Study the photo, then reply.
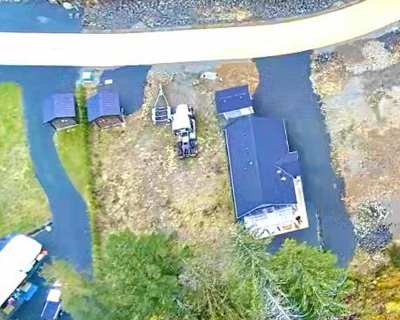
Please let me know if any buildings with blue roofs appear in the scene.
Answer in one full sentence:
Yes, the photo shows a building with a blue roof.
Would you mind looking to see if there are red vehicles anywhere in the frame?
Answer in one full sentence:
No, I can see no red vehicle in this picture.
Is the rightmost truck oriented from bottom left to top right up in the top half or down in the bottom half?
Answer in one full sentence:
The rightmost truck oriented from bottom left to top right is in the bottom half of the image.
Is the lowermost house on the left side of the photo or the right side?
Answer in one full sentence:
The lowermost house is on the right side of the image.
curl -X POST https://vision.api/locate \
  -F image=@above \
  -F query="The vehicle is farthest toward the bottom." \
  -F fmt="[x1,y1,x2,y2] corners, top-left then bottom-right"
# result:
[33,284,68,320]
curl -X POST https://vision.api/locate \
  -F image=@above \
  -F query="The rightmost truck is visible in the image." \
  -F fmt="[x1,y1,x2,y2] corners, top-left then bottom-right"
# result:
[179,101,205,160]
